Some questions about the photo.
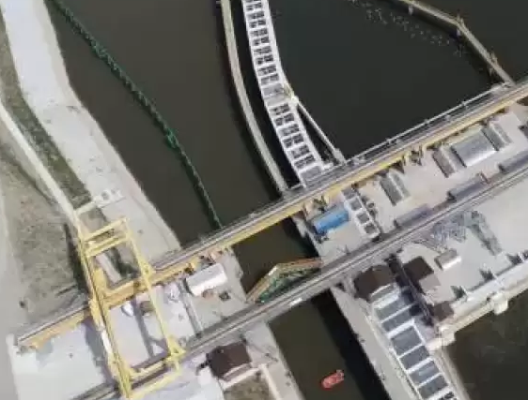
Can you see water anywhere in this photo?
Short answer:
Yes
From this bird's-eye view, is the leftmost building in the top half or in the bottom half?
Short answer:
bottom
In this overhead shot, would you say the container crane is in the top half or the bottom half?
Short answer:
bottom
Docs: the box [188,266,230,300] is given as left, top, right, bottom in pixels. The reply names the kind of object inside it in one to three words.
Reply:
building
